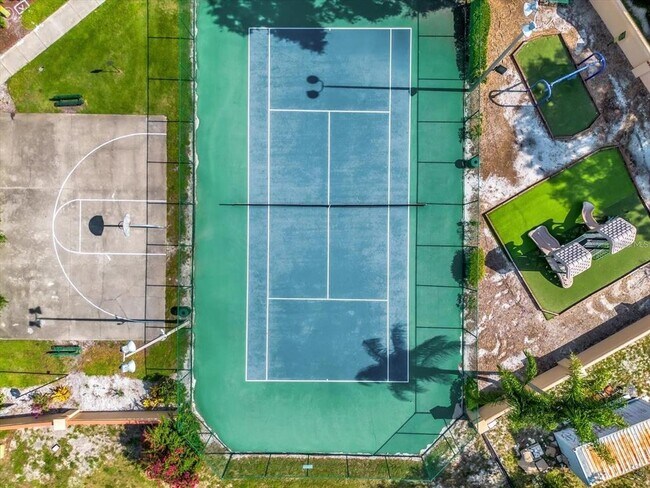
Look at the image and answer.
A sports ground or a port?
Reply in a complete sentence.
The area seen from above is a sports ground.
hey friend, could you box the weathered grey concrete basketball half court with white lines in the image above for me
[0,113,166,340]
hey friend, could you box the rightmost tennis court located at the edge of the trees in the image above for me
[194,0,465,456]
